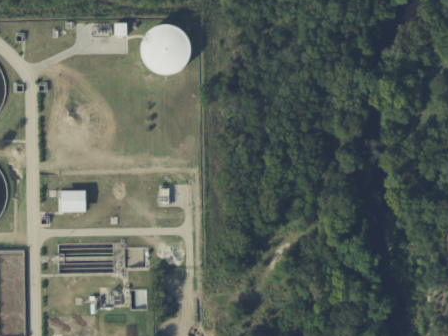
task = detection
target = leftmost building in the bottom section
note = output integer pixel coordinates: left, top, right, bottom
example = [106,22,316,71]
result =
[58,190,87,214]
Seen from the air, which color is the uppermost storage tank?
white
